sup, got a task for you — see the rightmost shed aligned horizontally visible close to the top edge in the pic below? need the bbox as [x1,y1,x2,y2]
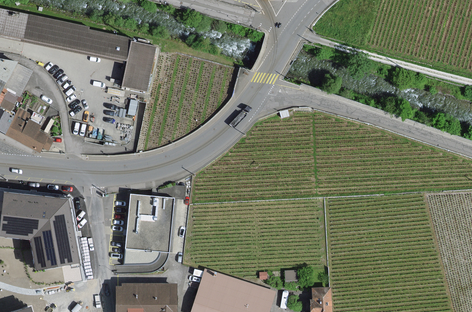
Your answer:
[23,14,130,60]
